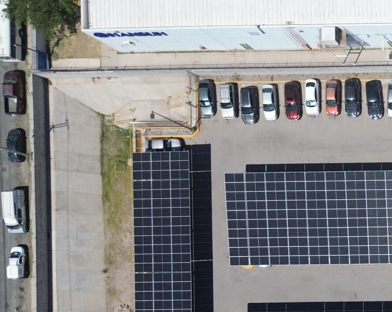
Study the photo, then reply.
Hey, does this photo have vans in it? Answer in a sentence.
Yes, looking at the shot, I can spot a van.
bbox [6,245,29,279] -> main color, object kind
white truck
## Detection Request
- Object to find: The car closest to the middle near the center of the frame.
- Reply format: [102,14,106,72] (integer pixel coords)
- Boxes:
[144,134,182,151]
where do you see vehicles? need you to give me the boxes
[6,245,29,279]
[301,78,320,115]
[1,188,30,233]
[196,80,217,117]
[321,79,341,117]
[385,81,392,118]
[4,129,27,162]
[281,81,302,121]
[259,84,279,120]
[342,78,362,118]
[144,134,182,151]
[1,70,24,114]
[217,83,238,119]
[364,80,384,120]
[238,87,259,124]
